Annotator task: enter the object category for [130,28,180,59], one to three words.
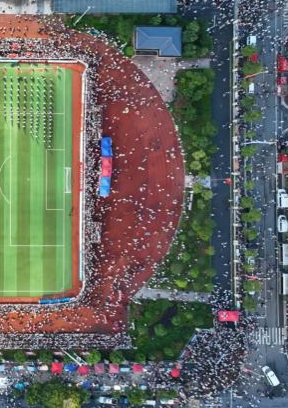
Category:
house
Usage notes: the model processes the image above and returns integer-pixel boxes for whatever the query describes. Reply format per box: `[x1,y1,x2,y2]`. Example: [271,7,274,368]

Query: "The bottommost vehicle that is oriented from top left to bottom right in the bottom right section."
[258,363,279,385]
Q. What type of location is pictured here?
sports ground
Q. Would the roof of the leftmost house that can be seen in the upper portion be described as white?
No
